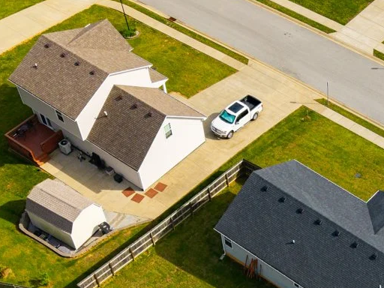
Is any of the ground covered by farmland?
No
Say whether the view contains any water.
No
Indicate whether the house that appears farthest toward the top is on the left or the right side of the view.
left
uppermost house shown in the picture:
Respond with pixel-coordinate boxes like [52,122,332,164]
[7,19,209,194]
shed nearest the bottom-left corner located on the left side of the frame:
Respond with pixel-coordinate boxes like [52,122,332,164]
[24,179,106,250]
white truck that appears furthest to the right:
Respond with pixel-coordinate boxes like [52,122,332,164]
[208,96,266,141]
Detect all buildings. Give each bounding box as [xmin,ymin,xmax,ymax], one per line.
[214,161,384,288]
[7,19,209,194]
[24,179,106,250]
